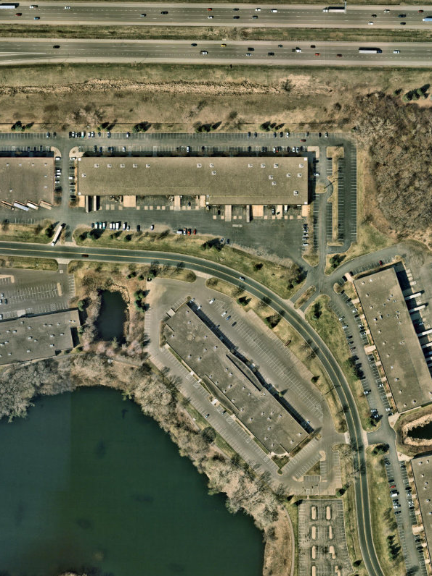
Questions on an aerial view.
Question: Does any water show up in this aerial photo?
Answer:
Yes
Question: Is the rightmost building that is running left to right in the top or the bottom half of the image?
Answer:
top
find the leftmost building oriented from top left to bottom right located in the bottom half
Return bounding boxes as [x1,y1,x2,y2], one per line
[166,304,308,453]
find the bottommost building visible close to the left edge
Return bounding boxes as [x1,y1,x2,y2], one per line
[0,310,81,364]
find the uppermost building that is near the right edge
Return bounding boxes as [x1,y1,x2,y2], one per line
[354,268,432,413]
